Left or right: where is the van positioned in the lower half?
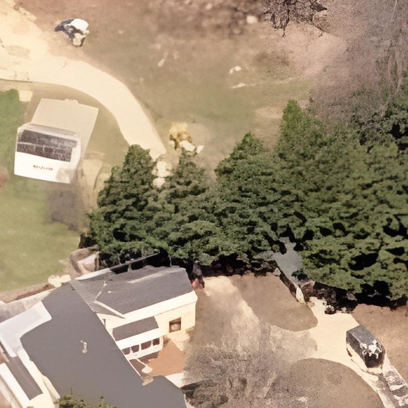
right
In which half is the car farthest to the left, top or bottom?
top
